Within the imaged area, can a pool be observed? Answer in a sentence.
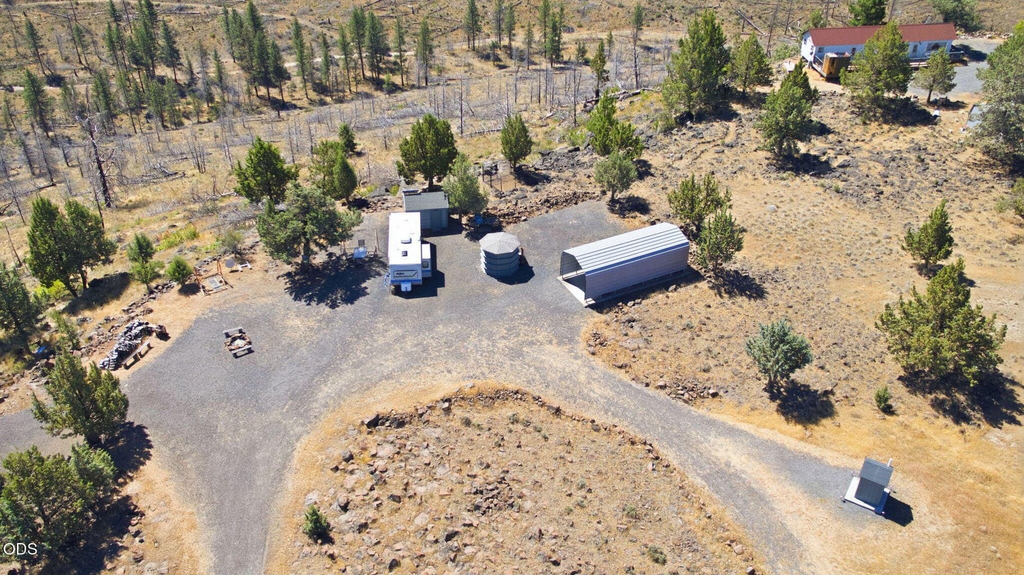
No, I can see no pool in this picture.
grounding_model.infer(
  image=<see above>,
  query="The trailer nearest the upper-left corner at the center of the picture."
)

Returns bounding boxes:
[388,212,431,300]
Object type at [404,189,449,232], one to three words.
shed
